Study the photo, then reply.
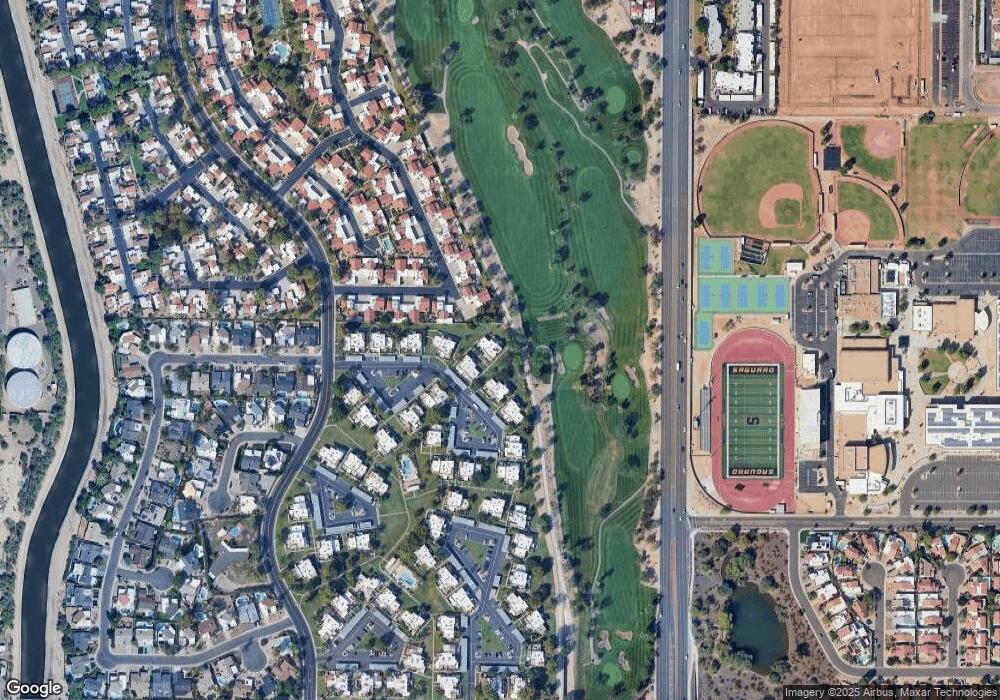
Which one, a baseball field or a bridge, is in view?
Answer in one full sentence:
This aerial view contains a baseball field.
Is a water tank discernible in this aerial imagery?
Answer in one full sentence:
Yes, the image includes a water tank.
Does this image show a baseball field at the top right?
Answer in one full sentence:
Yes, a baseball field shows up at the top right.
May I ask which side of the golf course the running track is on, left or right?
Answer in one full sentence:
The running track can be seen on the right of the golf course.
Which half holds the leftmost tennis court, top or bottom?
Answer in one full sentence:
The leftmost tennis court sits in the top half of the picture.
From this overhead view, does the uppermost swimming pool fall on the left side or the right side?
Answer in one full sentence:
The uppermost swimming pool is on the left side of the image.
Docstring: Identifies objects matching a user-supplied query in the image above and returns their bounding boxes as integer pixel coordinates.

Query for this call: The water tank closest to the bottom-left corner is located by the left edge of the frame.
[5,372,42,407]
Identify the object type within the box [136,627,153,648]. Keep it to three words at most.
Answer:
house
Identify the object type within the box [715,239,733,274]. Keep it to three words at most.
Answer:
tennis court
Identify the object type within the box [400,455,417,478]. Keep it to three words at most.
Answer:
swimming pool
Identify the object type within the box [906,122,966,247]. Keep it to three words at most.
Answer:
sports field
